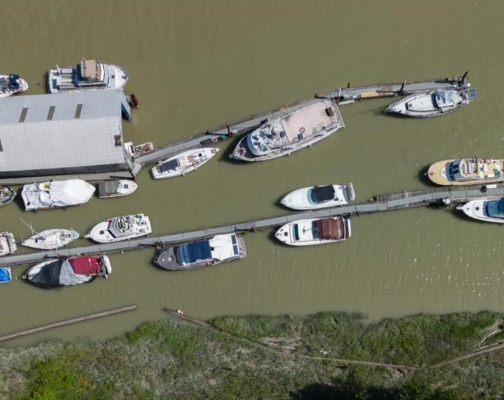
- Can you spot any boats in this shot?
Yes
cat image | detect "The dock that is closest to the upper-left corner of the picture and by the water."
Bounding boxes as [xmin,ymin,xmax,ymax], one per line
[0,168,133,186]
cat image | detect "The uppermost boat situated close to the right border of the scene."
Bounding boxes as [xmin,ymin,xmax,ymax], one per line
[385,84,479,118]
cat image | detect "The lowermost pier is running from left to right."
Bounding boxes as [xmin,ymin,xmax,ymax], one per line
[0,183,504,266]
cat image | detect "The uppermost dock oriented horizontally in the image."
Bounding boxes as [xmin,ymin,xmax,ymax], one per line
[134,75,470,166]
